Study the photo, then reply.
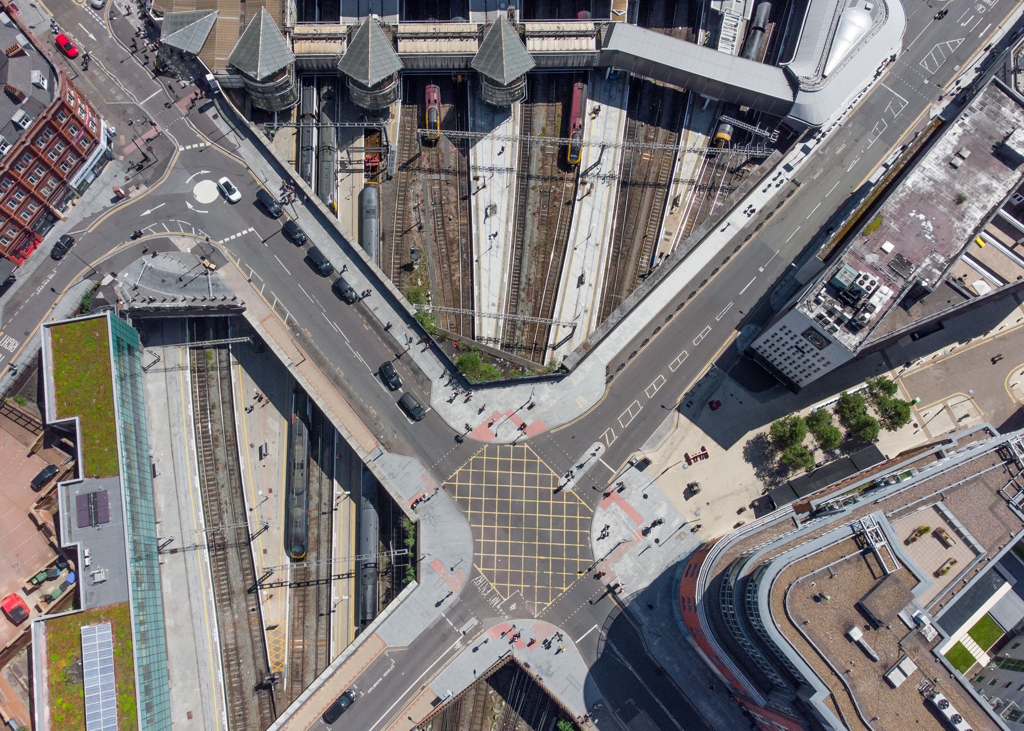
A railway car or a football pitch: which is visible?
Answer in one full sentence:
Of the two, only a railway car appears.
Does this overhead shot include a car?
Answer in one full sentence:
Yes, a car appears in the view.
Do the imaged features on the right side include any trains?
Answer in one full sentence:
Yes, a train is visible on the right side.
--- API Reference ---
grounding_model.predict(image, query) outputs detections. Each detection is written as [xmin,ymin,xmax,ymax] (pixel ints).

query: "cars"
[304,243,334,275]
[253,185,283,215]
[278,215,308,245]
[329,273,359,304]
[23,460,60,495]
[215,173,239,201]
[319,687,359,727]
[397,388,426,423]
[375,357,404,391]
[45,230,76,259]
[53,31,77,55]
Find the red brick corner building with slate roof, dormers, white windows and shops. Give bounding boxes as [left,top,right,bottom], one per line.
[0,0,111,267]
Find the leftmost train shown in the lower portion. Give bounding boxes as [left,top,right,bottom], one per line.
[289,376,316,562]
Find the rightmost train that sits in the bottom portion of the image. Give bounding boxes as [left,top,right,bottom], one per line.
[359,459,383,625]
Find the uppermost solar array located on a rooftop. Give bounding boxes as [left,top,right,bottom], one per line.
[75,489,110,528]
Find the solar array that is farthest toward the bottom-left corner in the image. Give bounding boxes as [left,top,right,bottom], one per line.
[81,621,118,731]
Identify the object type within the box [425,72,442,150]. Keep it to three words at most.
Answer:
rail car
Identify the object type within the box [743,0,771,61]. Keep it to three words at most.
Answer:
train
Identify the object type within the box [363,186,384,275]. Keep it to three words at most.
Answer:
train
